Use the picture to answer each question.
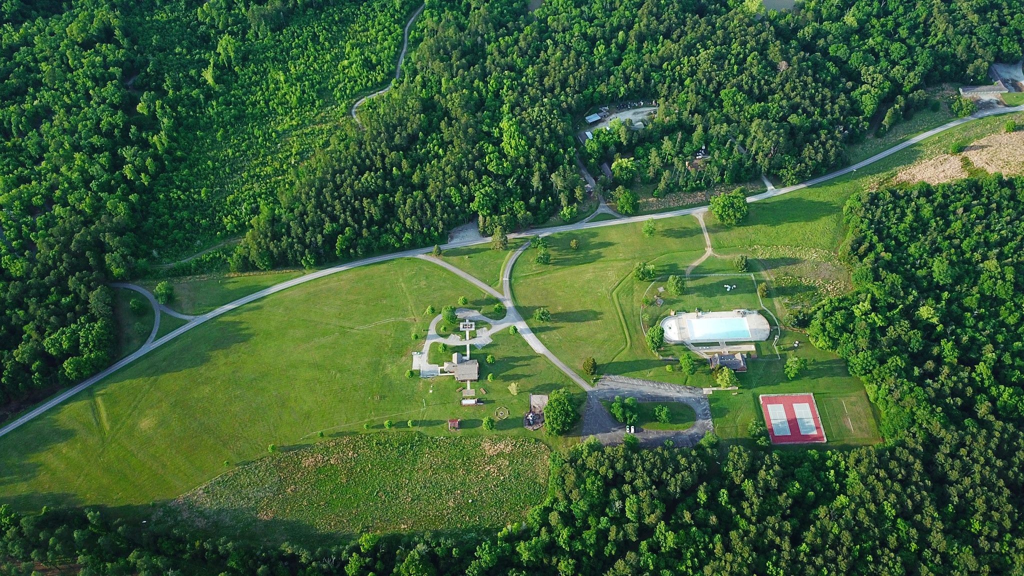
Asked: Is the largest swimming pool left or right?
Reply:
right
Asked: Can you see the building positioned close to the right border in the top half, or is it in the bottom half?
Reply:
top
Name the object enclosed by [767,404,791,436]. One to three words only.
tennis court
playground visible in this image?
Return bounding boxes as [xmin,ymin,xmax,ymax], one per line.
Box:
[524,394,549,431]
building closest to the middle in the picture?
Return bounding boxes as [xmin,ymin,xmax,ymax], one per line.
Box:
[448,351,479,382]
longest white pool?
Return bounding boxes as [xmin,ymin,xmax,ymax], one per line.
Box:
[660,309,770,344]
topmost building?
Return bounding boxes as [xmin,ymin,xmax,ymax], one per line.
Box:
[960,64,1011,94]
